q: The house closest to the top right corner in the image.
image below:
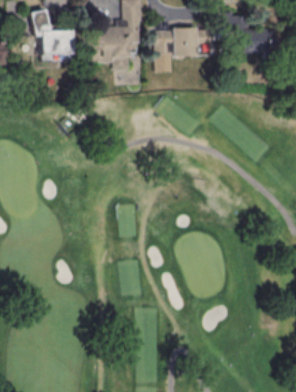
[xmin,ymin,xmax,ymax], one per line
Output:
[155,27,205,72]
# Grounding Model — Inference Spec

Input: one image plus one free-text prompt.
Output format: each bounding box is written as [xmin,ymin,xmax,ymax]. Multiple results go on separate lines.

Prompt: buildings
[90,0,143,85]
[30,7,76,60]
[155,27,205,72]
[0,42,8,66]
